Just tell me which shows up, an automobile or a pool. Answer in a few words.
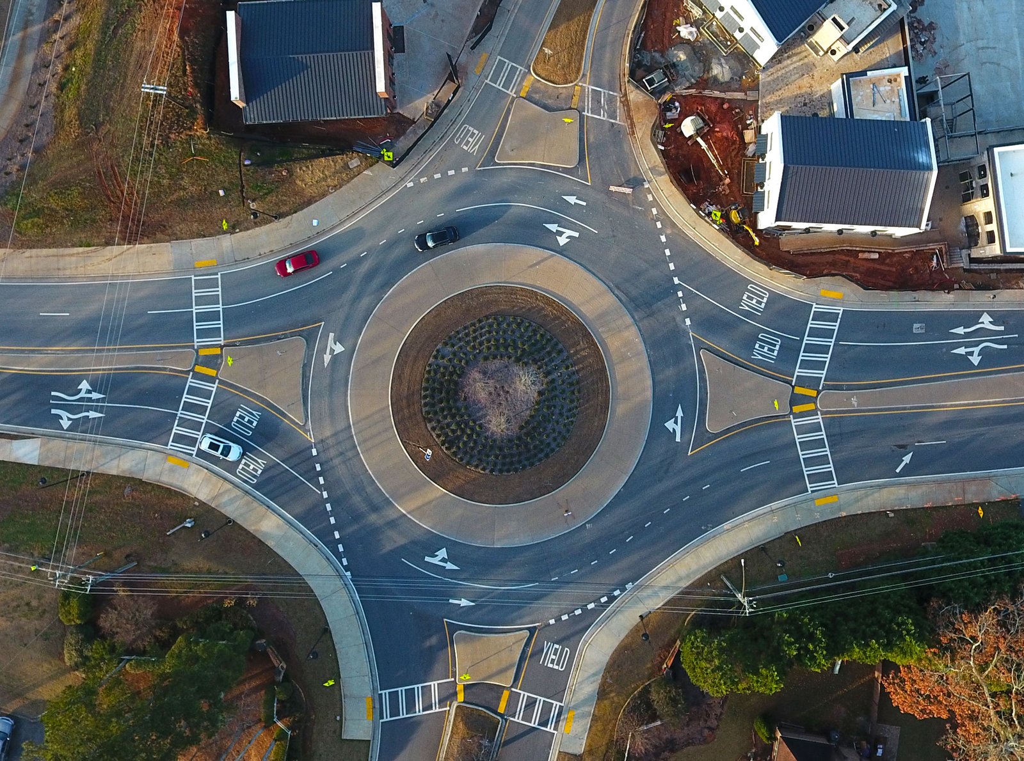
automobile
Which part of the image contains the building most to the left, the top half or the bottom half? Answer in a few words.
top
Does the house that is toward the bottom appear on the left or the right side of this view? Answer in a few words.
right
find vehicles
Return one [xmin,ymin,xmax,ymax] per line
[642,63,670,89]
[676,116,729,180]
[196,434,241,462]
[729,210,760,247]
[414,224,459,251]
[274,249,319,275]
[0,716,13,759]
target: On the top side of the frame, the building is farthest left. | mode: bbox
[221,0,400,130]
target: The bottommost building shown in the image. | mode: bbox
[762,723,840,761]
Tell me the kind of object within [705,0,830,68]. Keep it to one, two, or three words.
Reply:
building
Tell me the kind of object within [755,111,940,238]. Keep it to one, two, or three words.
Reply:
building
